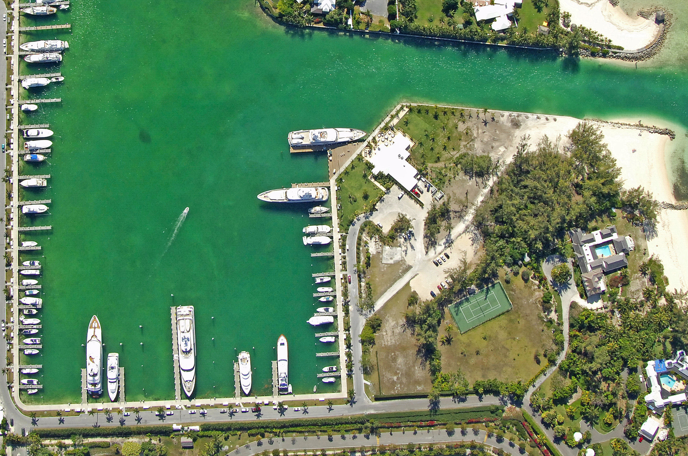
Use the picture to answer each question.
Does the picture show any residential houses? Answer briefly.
Yes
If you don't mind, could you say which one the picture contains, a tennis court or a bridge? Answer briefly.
tennis court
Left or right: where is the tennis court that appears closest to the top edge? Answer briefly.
right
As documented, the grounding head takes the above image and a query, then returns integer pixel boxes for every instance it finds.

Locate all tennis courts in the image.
[670,406,688,434]
[448,282,514,333]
